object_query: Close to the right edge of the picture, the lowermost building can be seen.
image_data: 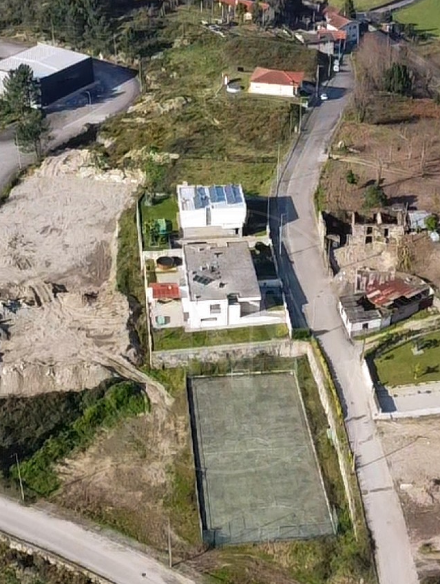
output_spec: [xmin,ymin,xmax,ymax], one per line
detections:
[338,267,434,338]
